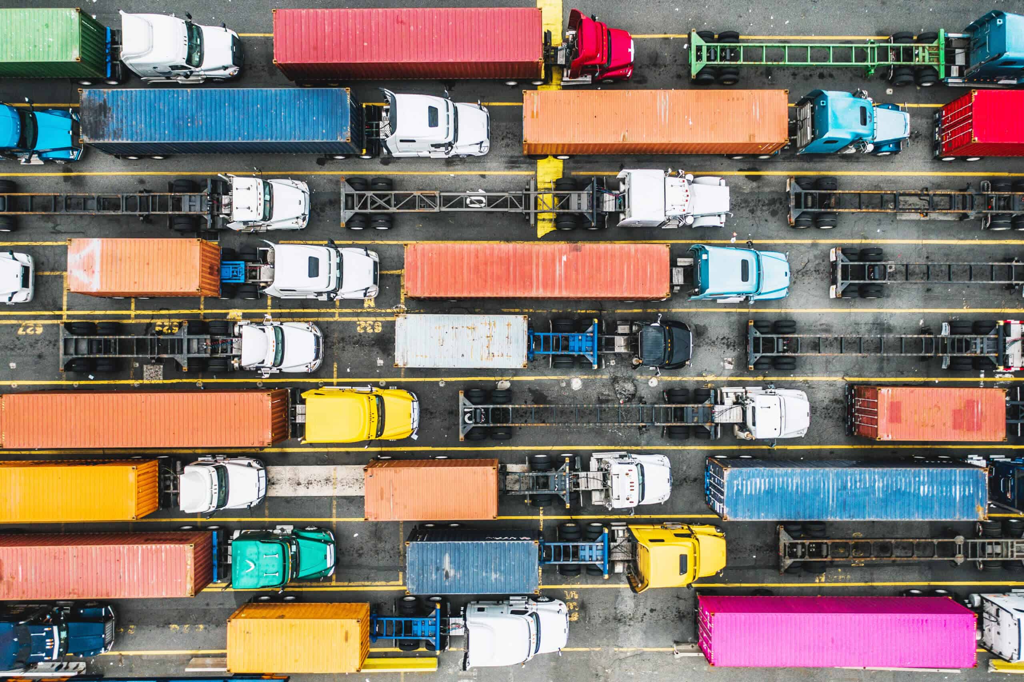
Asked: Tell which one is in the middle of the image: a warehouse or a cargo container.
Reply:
cargo container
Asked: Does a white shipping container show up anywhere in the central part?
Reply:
Yes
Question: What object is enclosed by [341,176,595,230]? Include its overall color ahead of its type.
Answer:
gray trailer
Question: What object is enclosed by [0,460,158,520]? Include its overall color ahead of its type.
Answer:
yellow shipping container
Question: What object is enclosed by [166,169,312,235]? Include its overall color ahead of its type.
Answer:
white work vehicle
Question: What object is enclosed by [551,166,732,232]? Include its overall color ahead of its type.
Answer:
white work vehicle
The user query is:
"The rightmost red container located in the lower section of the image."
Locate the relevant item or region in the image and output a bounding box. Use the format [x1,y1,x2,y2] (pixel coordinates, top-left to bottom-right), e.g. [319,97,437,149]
[856,385,1006,441]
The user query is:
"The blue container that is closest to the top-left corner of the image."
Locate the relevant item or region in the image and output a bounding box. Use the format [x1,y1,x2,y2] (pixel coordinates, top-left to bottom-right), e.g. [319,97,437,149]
[78,88,361,155]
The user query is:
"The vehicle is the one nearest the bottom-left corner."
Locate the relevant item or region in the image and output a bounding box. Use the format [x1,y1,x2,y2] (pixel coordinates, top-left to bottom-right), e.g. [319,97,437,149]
[0,598,118,670]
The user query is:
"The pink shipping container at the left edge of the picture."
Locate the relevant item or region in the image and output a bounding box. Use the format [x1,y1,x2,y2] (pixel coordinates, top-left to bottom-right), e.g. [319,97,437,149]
[0,532,213,598]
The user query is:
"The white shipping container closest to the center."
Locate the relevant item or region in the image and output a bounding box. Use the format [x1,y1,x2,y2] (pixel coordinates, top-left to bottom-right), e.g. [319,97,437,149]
[394,314,527,368]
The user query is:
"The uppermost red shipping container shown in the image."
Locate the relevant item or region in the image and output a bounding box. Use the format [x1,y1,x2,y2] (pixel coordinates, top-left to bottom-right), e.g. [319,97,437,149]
[273,8,542,80]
